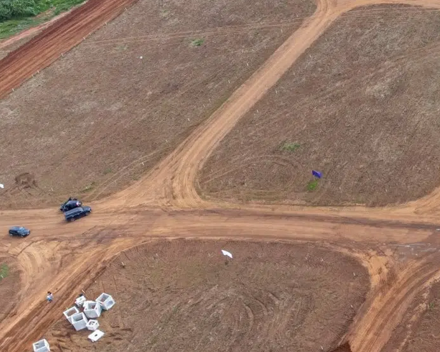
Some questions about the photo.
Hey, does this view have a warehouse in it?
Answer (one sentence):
No, no warehouse is visible in the scene.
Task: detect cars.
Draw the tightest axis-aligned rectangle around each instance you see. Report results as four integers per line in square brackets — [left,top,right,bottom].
[60,204,91,221]
[58,194,83,211]
[6,225,30,238]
